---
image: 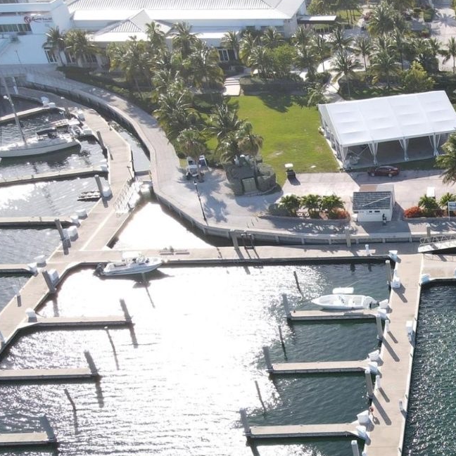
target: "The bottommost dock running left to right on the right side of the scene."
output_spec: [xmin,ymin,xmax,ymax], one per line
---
[246,412,367,449]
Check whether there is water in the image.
Yes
